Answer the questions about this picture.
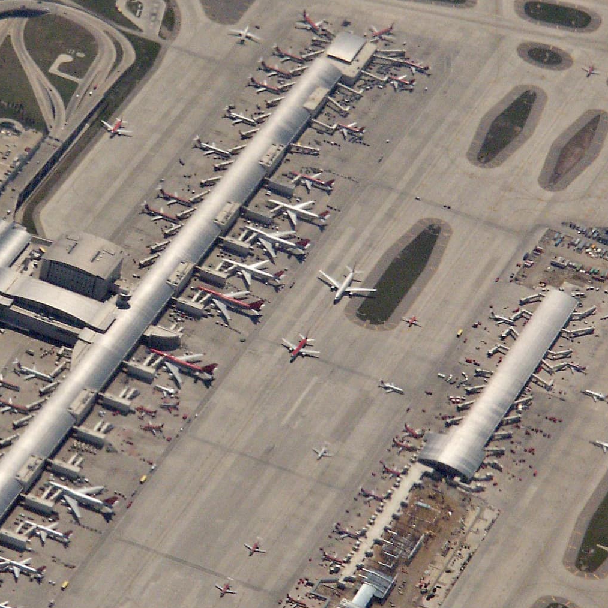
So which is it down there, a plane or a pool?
plane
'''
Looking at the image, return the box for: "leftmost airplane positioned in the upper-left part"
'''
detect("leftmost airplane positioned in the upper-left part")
[102,112,132,136]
